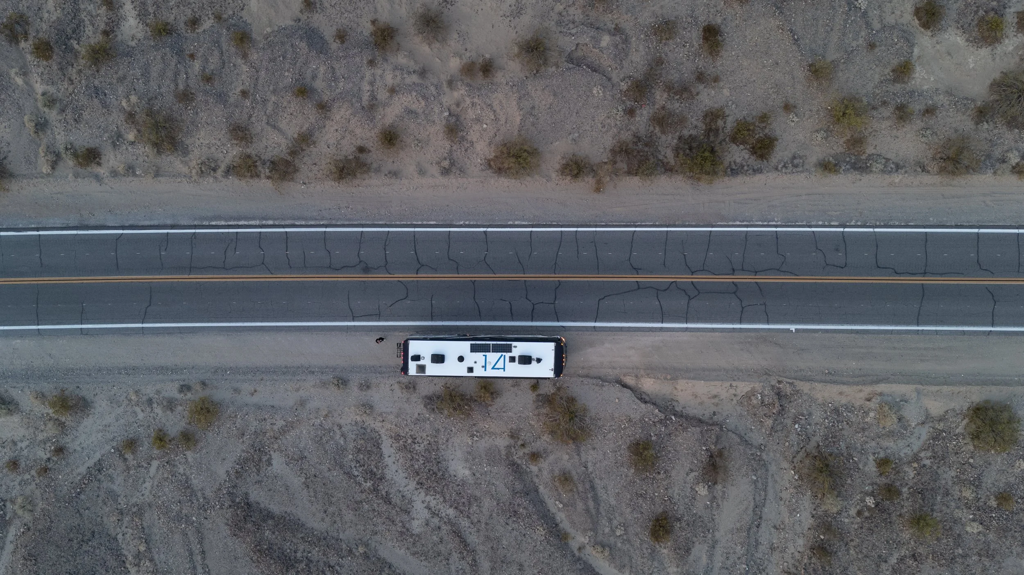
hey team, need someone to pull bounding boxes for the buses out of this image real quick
[397,335,568,381]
